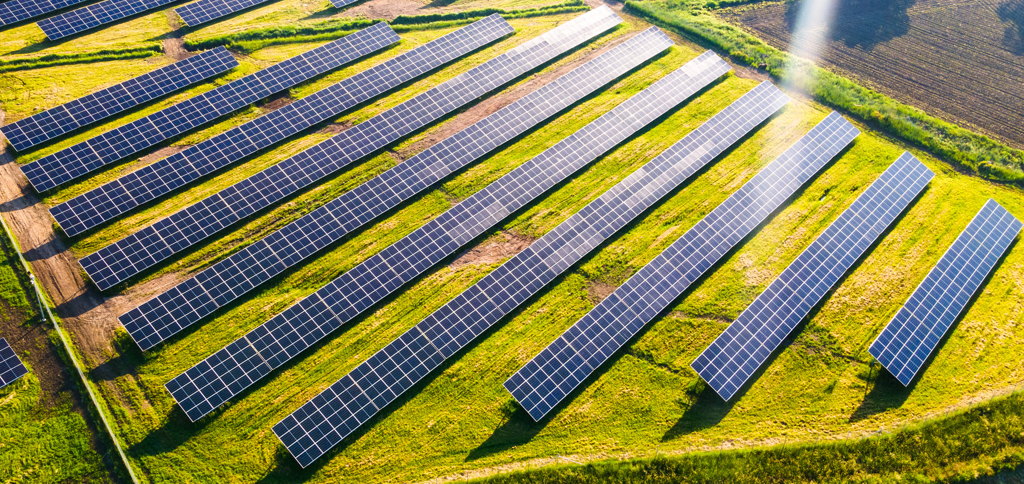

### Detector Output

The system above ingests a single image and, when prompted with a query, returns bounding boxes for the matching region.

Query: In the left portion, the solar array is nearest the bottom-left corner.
[0,338,30,396]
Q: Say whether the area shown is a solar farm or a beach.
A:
solar farm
